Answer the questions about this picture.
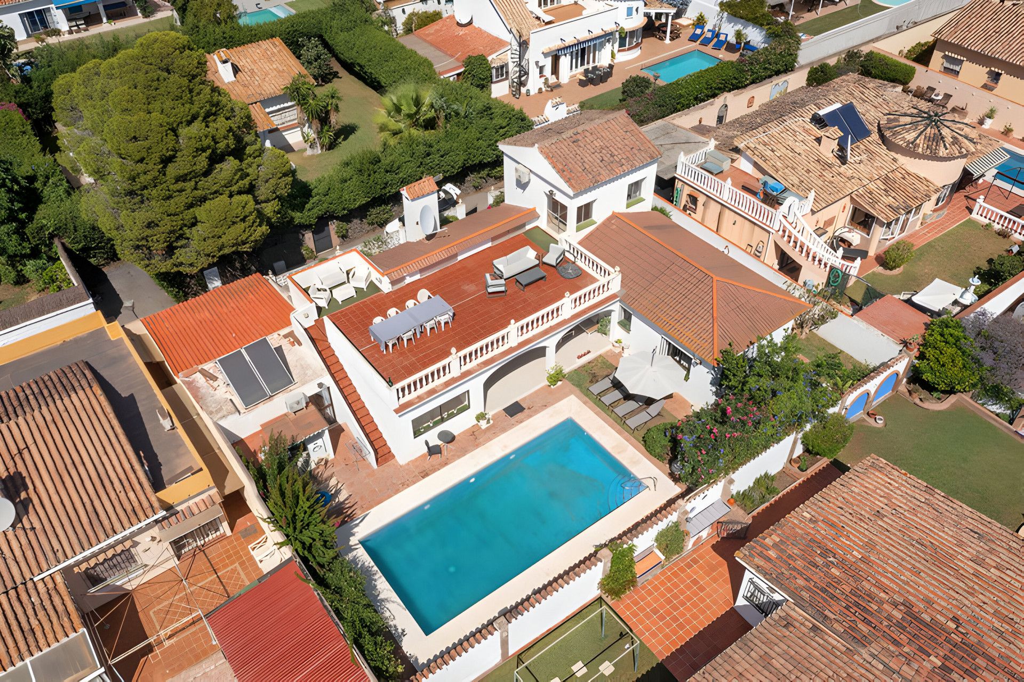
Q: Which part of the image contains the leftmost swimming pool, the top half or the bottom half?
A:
top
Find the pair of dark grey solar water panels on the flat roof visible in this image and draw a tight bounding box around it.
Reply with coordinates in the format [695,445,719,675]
[214,336,298,408]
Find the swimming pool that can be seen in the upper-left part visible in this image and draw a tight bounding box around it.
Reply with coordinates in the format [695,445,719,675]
[232,3,299,27]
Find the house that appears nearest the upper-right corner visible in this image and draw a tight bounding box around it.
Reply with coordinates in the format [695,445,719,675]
[925,0,1024,100]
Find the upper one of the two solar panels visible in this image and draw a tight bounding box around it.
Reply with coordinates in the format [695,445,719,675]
[807,100,869,143]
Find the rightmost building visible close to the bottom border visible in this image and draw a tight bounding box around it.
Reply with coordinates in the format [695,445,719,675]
[695,453,1024,682]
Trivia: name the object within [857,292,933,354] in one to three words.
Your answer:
shed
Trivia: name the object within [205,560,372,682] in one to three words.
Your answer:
shed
